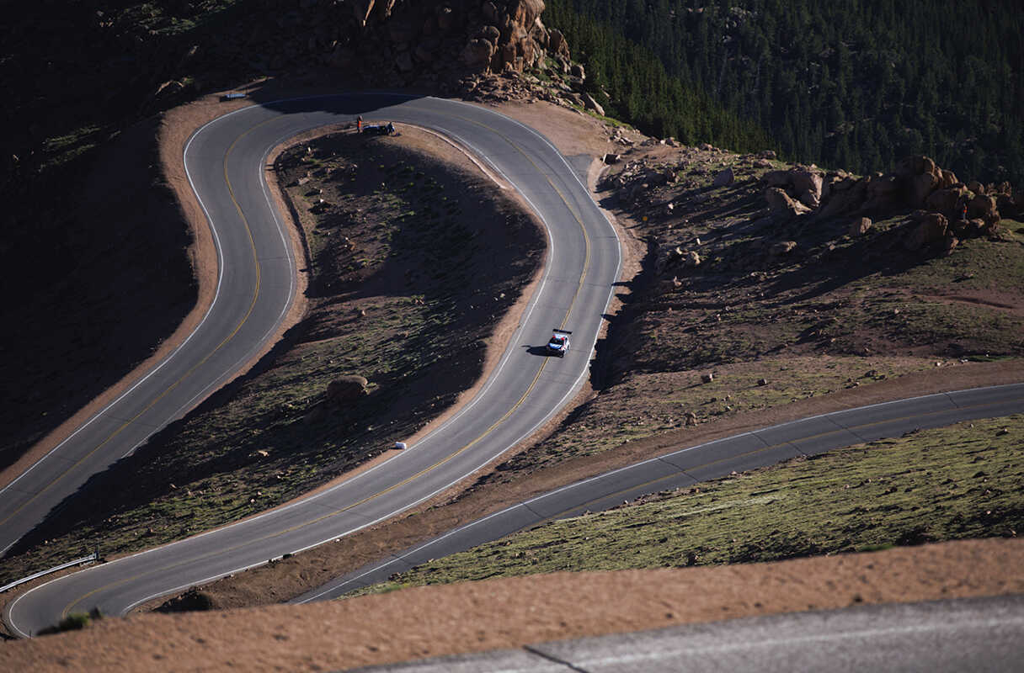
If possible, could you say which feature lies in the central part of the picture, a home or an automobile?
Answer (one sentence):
The feature located in the central part of the picture is an automobile.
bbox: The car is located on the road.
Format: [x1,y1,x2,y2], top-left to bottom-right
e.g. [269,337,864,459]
[544,325,575,361]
